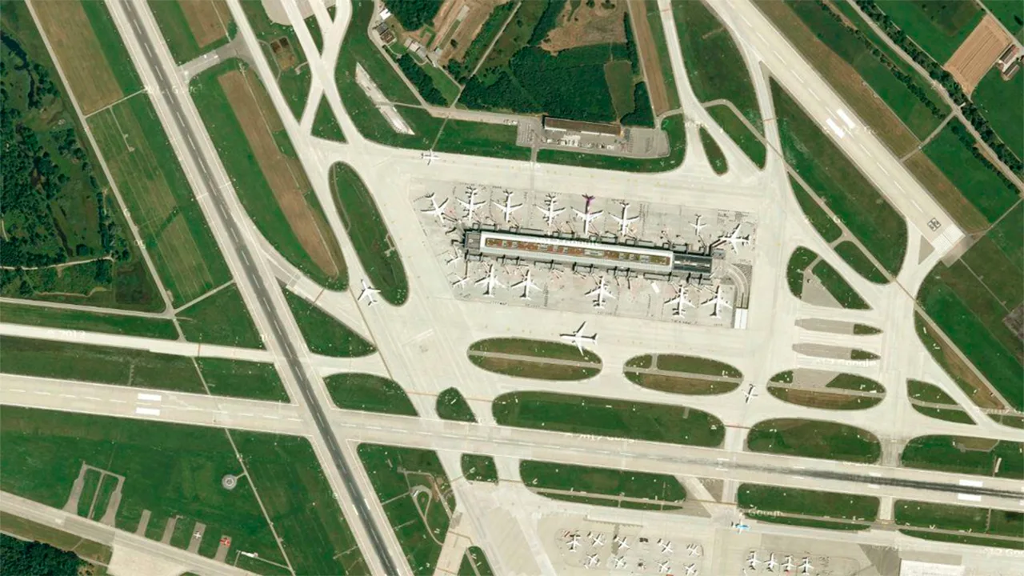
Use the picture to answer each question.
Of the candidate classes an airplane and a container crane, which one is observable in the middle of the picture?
airplane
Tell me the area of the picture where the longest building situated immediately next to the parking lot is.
center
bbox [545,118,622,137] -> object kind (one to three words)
building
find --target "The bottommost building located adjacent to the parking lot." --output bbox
[466,232,712,275]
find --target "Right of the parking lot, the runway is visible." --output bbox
[709,0,964,257]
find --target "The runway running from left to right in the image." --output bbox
[0,373,1024,511]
